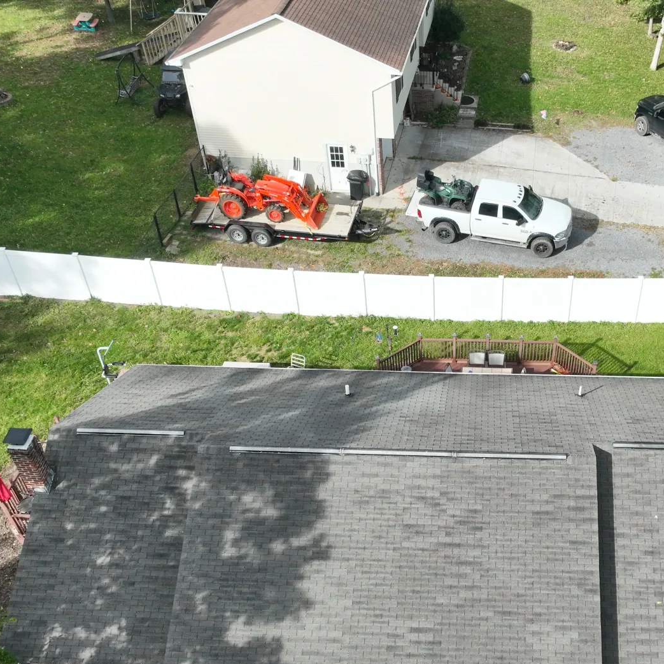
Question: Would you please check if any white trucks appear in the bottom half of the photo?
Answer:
No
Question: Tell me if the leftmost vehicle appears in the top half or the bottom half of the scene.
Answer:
top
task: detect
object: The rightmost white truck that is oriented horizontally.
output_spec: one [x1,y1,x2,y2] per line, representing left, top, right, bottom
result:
[410,183,579,258]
